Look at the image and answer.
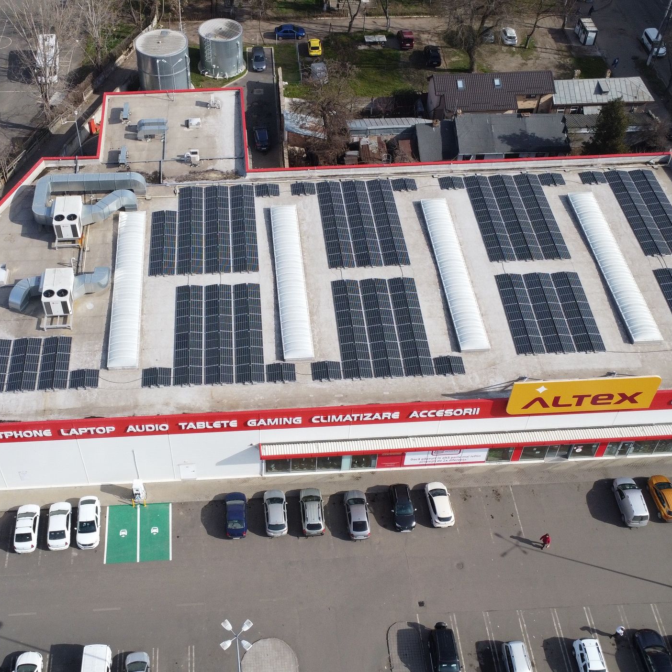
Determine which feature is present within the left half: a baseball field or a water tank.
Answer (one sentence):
Looking within the left half, you will find a water tank.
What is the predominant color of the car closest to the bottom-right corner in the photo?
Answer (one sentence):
The color of the car closest to the bottom-right corner is black.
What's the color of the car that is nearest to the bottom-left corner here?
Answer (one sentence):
The color of the car that is nearest to the bottom-left corner is white.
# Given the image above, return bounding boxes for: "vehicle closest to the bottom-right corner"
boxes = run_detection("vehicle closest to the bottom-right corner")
[635,628,672,672]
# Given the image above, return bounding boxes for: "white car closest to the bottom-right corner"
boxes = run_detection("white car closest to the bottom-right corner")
[570,633,611,672]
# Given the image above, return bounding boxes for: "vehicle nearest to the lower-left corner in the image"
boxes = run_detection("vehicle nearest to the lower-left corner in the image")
[14,649,43,672]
